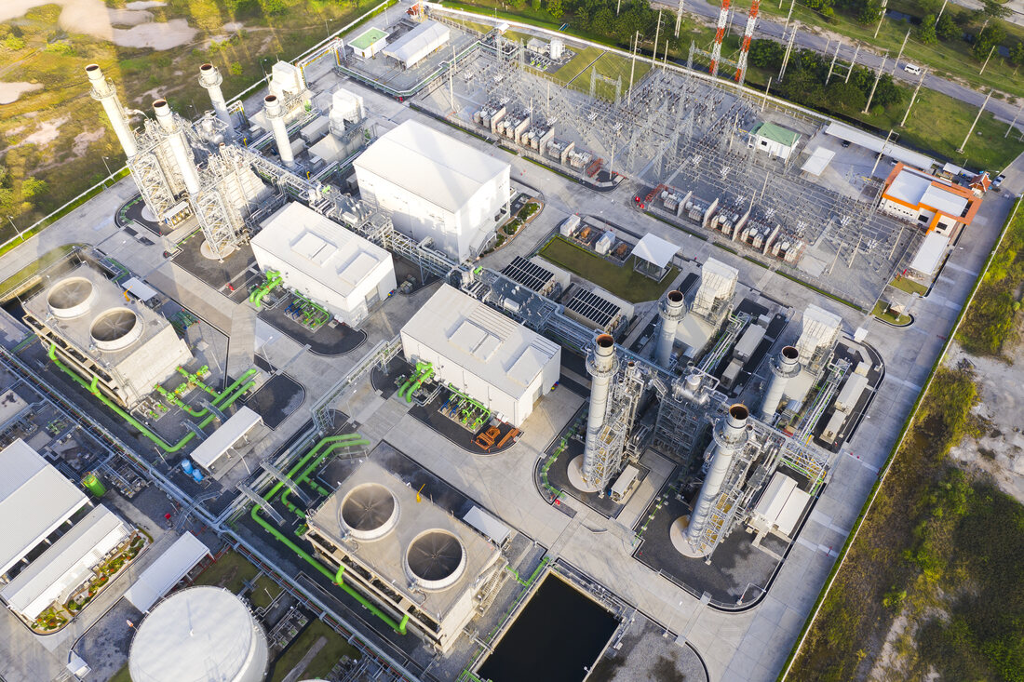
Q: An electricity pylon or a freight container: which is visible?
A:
electricity pylon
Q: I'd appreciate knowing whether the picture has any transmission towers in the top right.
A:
Yes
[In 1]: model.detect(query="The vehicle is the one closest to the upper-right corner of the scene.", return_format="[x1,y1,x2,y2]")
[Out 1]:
[904,62,922,76]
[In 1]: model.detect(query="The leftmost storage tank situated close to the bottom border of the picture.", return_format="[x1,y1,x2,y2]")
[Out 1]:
[120,581,272,682]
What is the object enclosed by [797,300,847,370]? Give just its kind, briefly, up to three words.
house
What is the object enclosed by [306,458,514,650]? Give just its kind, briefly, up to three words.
cooling tower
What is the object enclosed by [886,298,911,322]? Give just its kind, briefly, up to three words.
gazebo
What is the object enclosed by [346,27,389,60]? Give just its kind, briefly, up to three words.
building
